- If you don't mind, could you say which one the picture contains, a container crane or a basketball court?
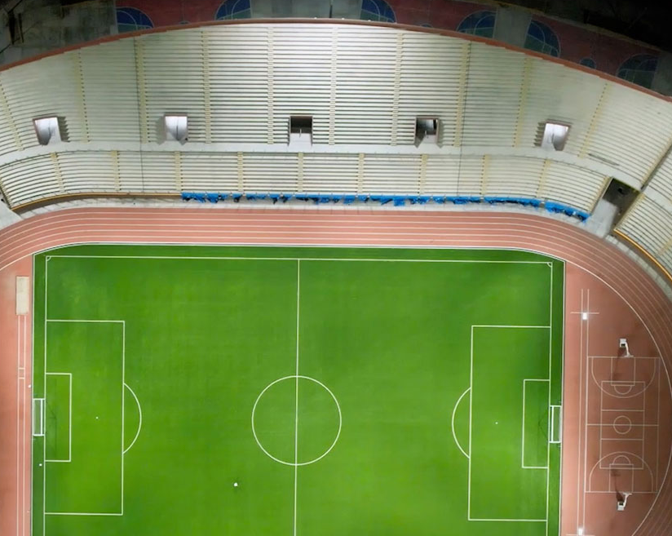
basketball court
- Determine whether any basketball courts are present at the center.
No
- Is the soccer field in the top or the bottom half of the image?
bottom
